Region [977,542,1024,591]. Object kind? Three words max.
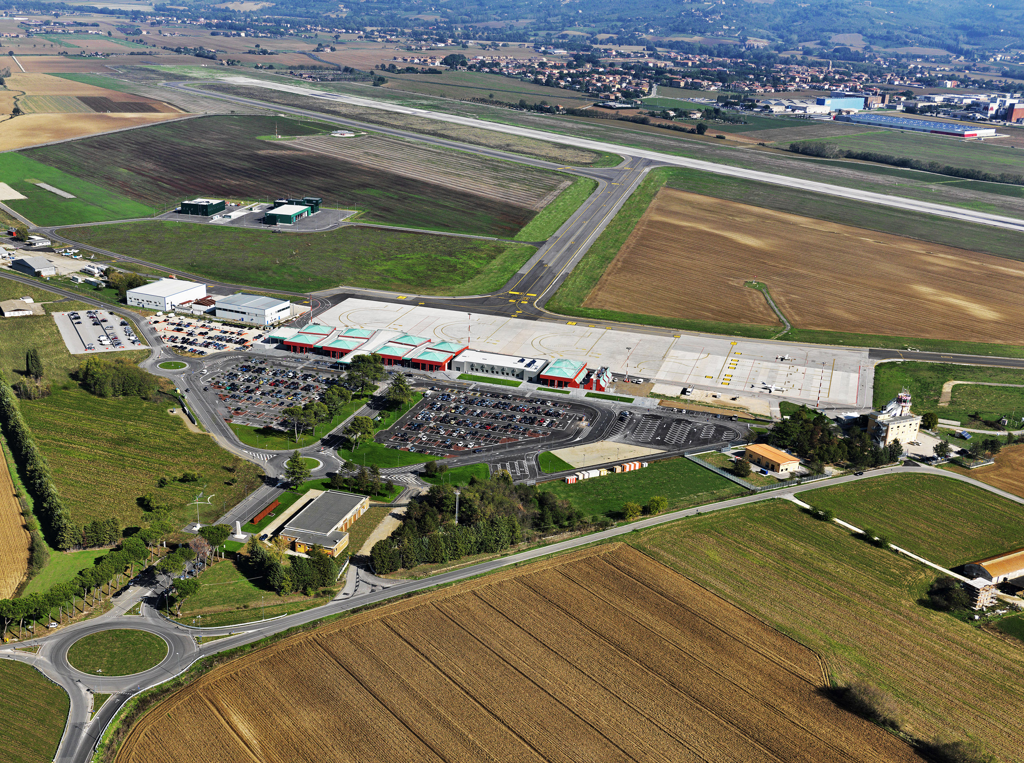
building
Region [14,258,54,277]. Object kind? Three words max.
hangar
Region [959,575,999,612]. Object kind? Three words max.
house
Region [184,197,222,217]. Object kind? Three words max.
building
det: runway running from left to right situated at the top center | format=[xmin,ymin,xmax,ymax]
[217,77,1024,231]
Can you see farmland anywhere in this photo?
Yes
